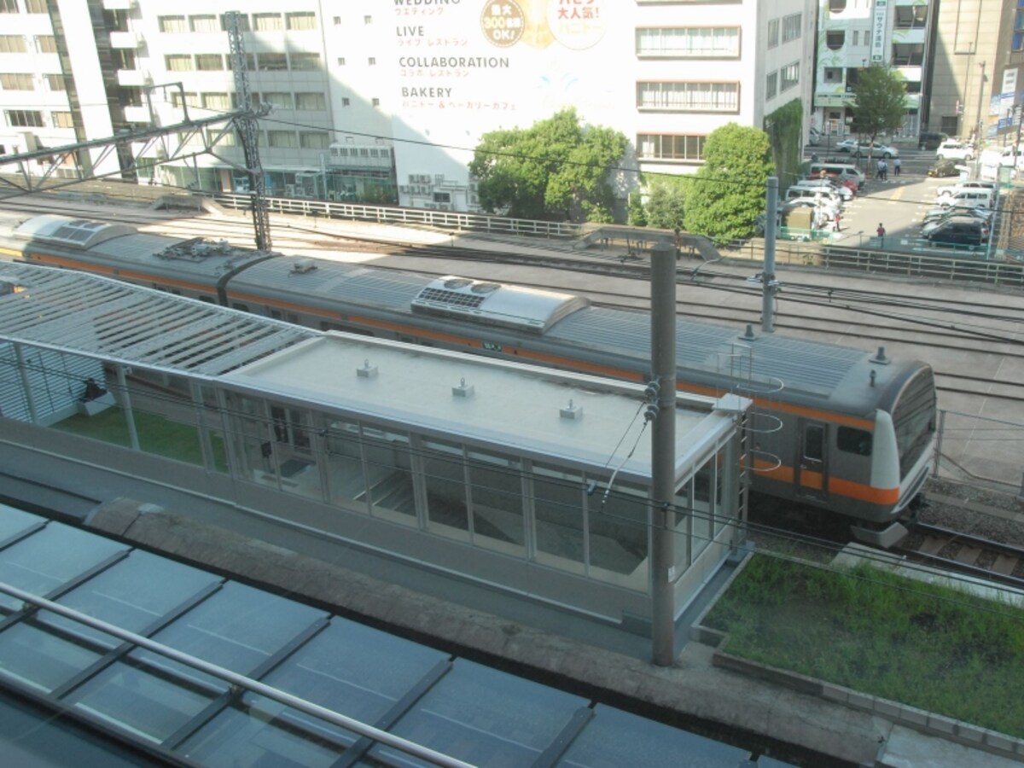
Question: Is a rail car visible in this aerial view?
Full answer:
Yes, you can see a rail car in this photo.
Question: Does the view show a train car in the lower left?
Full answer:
No, no train car appears in the lower left.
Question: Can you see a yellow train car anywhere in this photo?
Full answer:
No, I can't see a single yellow train car in this photo.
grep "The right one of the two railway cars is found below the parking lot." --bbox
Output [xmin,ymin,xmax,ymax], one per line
[218,257,948,549]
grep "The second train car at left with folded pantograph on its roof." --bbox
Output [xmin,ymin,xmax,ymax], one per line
[0,219,274,365]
